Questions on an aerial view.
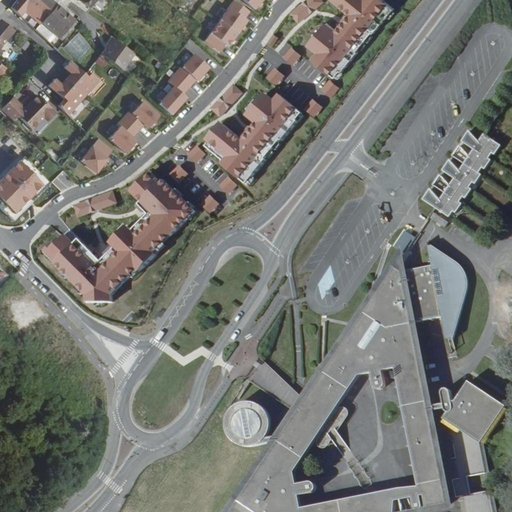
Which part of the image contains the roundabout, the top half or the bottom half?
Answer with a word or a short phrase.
bottom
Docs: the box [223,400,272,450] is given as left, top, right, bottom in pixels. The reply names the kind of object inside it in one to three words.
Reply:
building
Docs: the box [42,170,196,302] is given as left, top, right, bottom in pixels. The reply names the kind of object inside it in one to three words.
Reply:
building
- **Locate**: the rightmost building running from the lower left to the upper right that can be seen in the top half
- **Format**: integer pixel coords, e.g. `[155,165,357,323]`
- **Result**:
[421,129,502,217]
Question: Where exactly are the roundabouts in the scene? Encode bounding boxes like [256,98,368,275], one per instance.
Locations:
[56,204,289,512]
